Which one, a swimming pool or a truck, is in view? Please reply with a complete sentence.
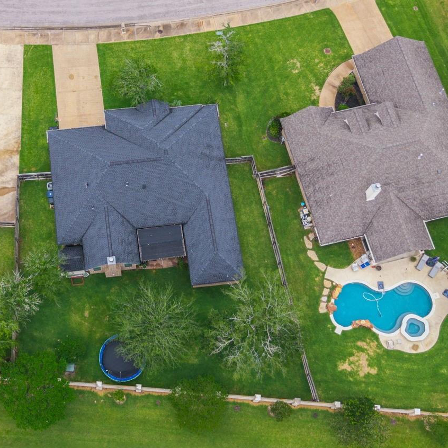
This aerial view contains a swimming pool.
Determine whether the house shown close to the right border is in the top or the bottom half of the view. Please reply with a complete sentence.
You can find the house shown close to the right border in the top half.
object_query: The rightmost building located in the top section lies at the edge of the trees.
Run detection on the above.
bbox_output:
[281,37,448,268]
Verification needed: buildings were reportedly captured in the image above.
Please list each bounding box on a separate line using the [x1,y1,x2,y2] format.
[47,100,245,289]
[281,37,448,268]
